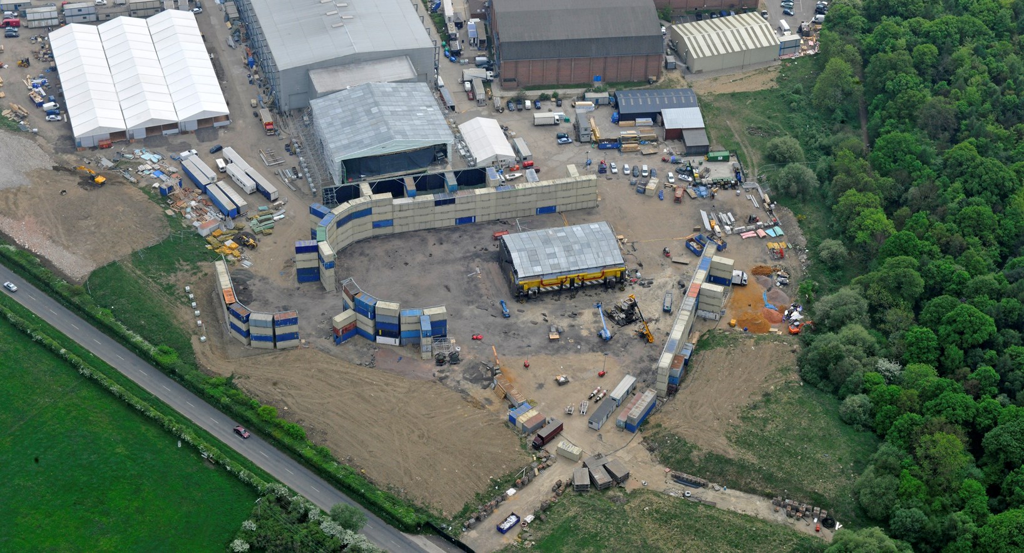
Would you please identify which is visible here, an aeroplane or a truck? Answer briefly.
truck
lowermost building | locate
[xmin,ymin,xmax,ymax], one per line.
[588,395,617,429]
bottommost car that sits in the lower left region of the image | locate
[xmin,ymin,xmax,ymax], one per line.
[233,425,250,437]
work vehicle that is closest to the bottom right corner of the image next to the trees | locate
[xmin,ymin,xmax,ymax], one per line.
[787,313,819,332]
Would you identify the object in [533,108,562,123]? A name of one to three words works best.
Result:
vehicle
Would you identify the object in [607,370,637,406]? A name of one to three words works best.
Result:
building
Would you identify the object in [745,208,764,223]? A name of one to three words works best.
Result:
work vehicle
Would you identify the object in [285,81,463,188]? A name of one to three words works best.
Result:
shed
